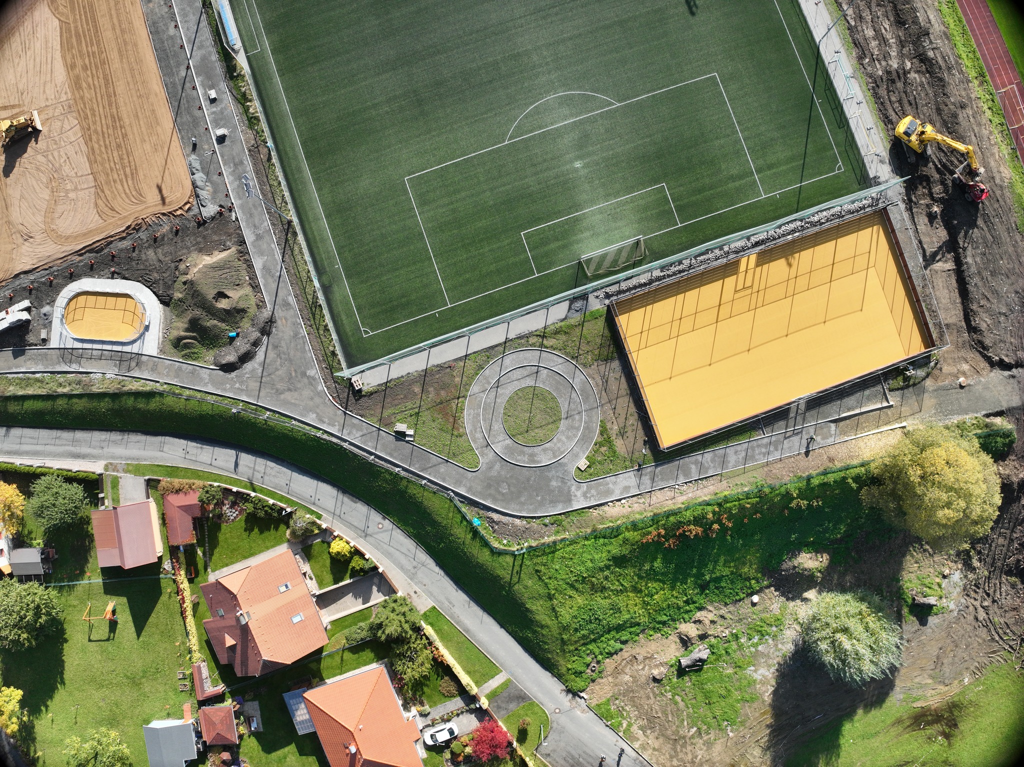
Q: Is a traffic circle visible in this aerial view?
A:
Yes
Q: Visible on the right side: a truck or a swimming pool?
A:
truck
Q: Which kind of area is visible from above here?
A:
sports ground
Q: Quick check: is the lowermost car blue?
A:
No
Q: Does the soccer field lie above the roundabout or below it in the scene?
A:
above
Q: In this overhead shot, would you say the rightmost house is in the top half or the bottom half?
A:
bottom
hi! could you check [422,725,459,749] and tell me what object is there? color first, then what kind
white car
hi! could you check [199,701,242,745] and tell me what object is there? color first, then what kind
red gazebo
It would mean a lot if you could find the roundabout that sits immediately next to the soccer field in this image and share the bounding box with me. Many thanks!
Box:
[467,349,599,481]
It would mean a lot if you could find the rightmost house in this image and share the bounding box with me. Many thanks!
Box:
[282,661,430,767]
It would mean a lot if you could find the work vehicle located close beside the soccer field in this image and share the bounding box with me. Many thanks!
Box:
[891,121,975,181]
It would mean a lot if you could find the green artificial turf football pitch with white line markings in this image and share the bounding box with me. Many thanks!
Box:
[229,0,872,375]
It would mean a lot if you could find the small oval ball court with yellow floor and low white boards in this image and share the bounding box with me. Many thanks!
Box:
[53,288,146,340]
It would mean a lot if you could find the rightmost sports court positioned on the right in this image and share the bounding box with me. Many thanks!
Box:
[608,201,949,451]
